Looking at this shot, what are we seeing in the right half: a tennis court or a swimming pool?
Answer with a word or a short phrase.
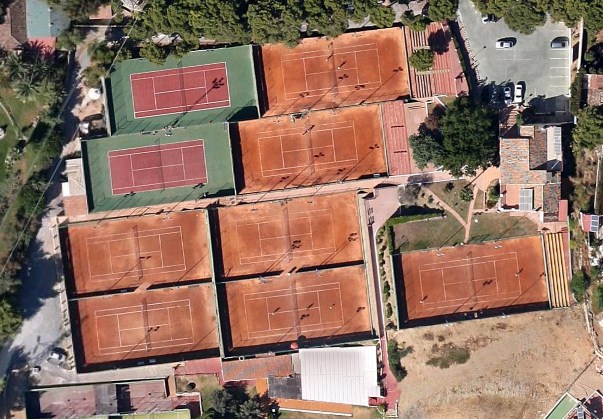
tennis court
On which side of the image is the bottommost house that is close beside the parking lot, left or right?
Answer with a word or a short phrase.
right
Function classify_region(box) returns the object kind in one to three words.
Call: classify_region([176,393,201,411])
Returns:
shed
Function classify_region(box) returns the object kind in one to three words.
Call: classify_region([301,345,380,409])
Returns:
building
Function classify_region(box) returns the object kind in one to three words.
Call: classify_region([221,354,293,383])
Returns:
building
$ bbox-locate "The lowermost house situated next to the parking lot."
[498,125,568,222]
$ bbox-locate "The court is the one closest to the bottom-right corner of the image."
[393,236,549,329]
